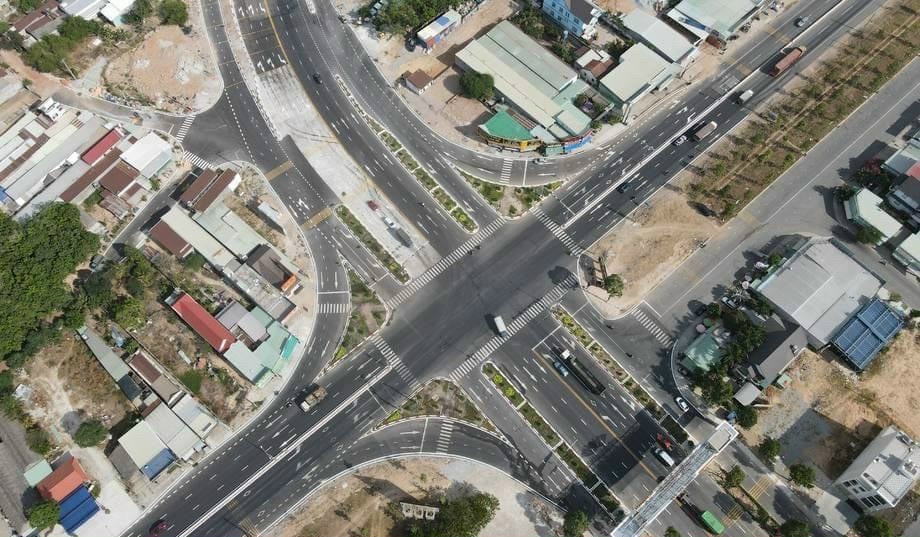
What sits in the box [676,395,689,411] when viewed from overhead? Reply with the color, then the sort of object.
white vehicle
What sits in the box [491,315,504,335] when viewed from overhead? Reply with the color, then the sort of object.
white vehicle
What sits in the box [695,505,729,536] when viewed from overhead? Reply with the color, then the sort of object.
green bus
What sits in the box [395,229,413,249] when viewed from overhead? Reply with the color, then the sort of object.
gray vehicle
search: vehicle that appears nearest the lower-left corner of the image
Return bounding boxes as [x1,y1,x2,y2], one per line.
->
[150,518,167,534]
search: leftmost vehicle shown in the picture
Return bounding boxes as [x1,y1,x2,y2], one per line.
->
[90,253,103,267]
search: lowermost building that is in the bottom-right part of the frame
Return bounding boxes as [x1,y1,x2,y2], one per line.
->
[834,426,920,513]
